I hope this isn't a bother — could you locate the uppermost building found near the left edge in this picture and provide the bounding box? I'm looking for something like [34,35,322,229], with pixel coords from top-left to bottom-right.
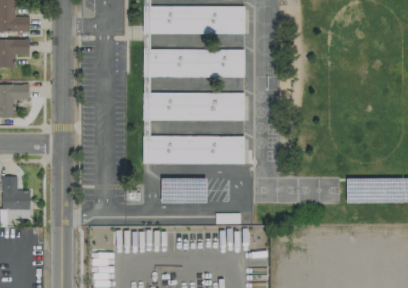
[0,0,30,32]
